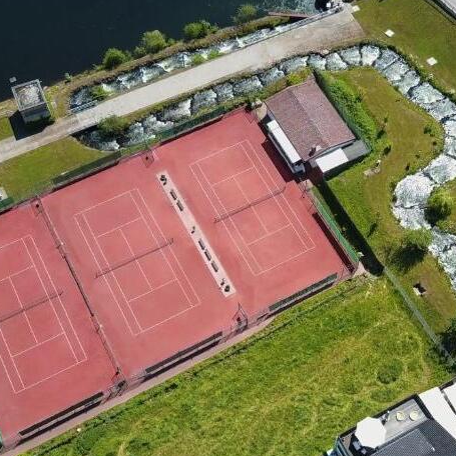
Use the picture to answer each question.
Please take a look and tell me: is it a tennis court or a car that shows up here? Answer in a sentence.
It is a tennis court that can be seen here.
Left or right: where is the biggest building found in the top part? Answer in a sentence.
The biggest building found in the top part is on the right side of the image.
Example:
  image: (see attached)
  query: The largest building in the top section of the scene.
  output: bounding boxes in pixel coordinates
[266,84,356,168]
